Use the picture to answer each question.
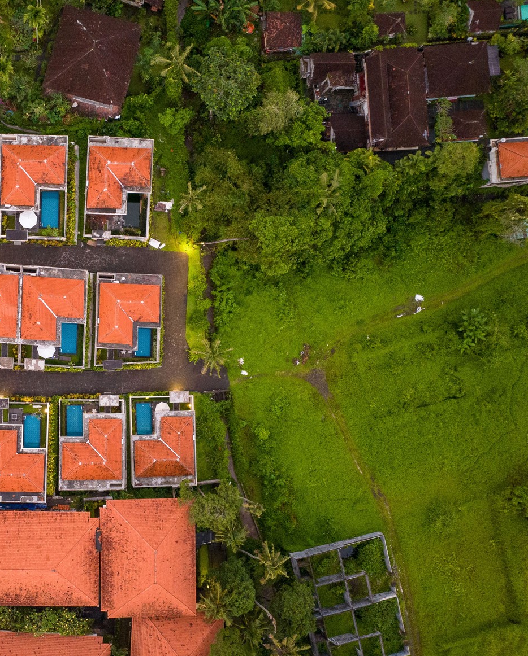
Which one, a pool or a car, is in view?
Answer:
pool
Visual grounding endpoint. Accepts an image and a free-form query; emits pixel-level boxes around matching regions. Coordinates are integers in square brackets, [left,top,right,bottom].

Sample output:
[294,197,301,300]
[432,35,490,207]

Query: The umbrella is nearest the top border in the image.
[19,211,37,229]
